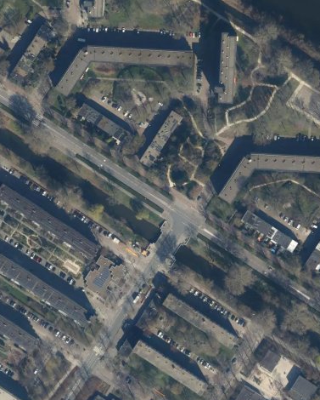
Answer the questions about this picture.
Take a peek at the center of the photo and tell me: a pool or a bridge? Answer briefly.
bridge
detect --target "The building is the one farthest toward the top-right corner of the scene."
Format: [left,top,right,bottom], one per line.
[213,32,238,104]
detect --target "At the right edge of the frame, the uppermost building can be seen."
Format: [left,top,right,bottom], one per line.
[218,153,320,202]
